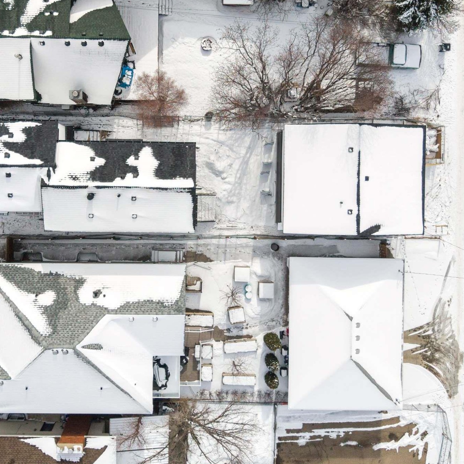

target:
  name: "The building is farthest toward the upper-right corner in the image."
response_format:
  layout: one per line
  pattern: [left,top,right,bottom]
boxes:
[267,122,425,235]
